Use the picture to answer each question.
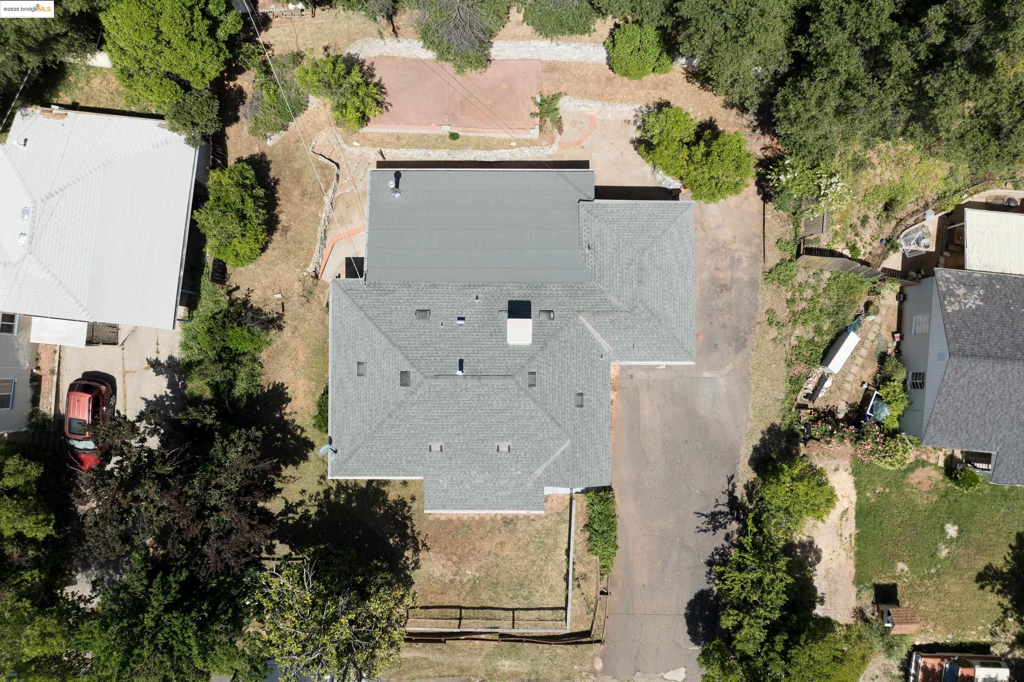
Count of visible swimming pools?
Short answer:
none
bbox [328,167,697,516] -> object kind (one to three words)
house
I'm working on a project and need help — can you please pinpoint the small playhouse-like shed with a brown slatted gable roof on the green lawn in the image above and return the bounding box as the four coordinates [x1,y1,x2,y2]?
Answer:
[861,599,920,635]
